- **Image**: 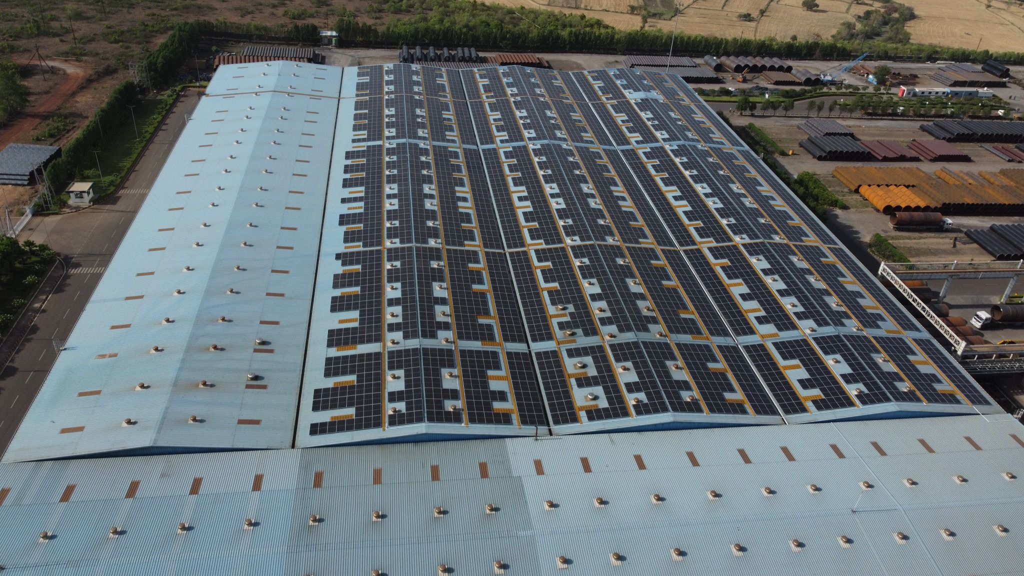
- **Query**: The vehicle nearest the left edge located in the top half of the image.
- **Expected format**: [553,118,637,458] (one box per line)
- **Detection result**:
[738,64,754,83]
